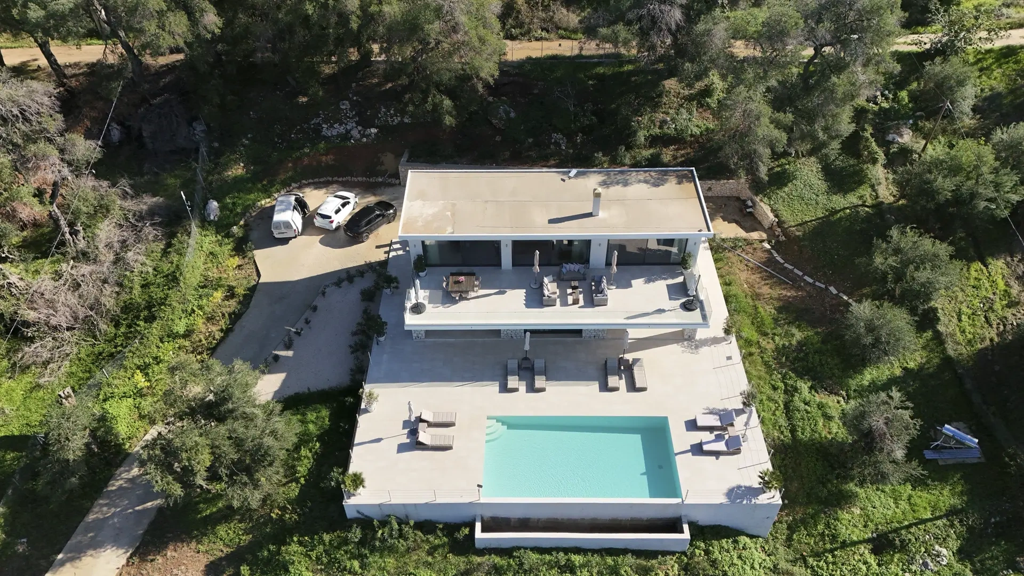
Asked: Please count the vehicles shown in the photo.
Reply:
three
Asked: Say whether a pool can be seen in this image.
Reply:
Yes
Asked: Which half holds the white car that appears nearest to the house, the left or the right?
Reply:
left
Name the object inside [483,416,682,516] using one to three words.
swimming pool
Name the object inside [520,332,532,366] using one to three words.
umbrella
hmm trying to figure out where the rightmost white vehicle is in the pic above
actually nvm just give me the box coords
[309,191,359,231]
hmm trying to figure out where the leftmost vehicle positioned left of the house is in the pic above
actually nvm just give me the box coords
[269,191,301,234]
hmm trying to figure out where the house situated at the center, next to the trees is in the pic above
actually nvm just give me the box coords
[398,167,714,342]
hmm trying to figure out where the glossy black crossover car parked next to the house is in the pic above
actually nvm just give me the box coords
[339,199,398,242]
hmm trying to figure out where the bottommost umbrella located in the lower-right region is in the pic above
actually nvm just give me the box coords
[738,407,757,443]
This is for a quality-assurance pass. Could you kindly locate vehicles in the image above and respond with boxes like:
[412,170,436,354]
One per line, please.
[339,199,398,242]
[309,191,359,231]
[269,191,301,234]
